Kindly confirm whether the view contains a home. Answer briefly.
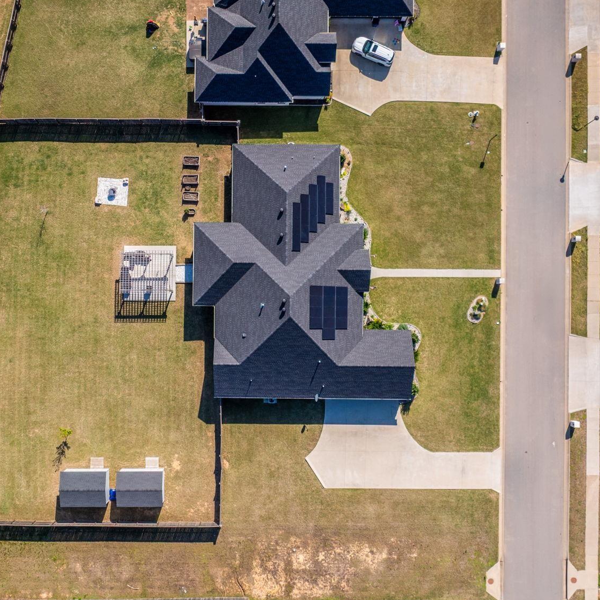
Yes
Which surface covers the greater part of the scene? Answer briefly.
grass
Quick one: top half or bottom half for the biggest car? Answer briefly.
top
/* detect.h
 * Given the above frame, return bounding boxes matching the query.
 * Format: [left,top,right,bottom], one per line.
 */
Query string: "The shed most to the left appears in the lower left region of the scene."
[58,457,109,507]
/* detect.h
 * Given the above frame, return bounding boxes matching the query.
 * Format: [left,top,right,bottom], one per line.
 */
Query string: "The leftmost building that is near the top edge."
[194,0,415,105]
